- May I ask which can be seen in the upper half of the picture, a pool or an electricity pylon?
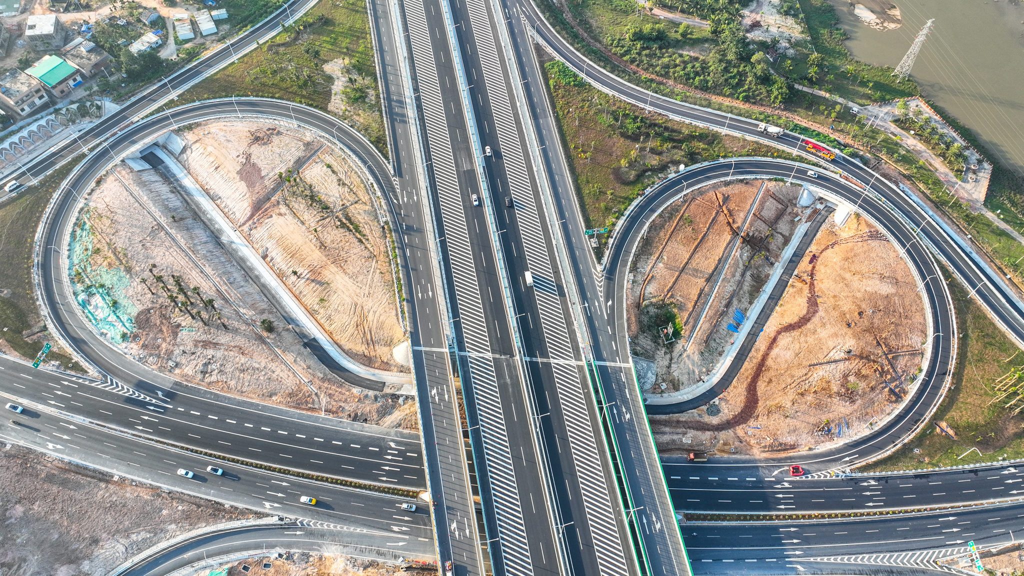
electricity pylon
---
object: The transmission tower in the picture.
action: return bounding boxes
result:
[890,19,934,83]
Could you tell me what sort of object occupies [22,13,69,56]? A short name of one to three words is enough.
building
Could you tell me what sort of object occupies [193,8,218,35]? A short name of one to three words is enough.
shed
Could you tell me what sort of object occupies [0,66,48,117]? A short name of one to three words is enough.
house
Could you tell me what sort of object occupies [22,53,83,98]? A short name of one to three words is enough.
house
